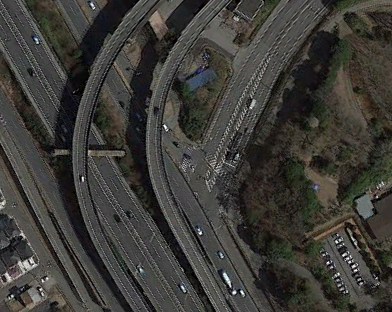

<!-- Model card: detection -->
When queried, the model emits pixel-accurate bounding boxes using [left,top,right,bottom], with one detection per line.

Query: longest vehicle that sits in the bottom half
[220,269,237,296]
